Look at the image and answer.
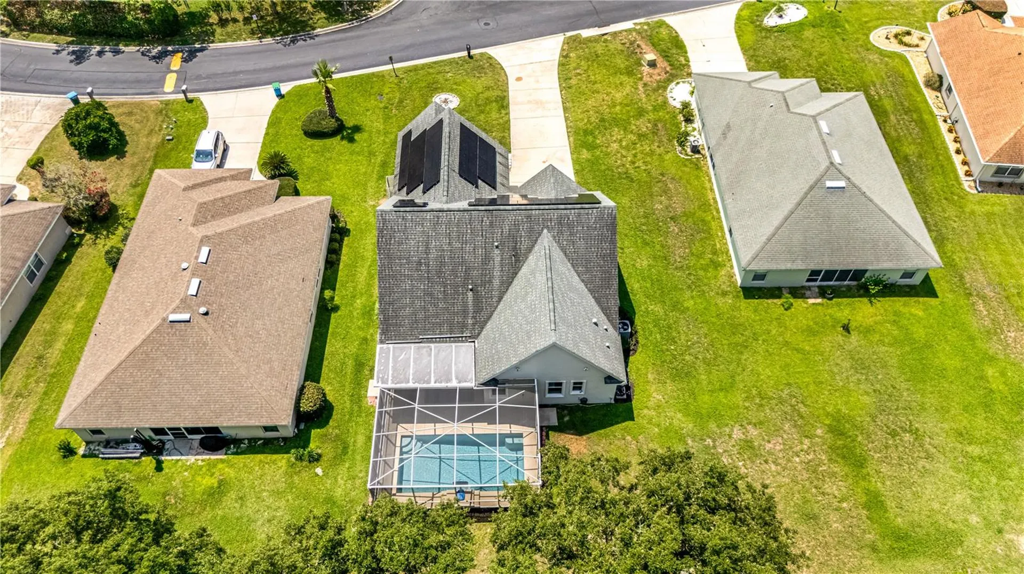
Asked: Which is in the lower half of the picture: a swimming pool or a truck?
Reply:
swimming pool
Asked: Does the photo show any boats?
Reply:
No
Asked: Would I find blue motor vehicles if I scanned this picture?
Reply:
No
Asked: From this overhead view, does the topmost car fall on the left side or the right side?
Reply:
left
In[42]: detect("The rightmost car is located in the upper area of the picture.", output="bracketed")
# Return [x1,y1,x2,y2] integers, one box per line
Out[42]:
[188,132,225,169]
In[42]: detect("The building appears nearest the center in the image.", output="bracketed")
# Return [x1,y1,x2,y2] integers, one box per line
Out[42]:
[368,102,626,403]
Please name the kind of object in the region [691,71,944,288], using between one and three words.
house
